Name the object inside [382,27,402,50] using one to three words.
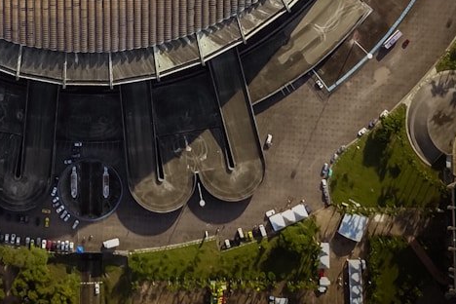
bus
